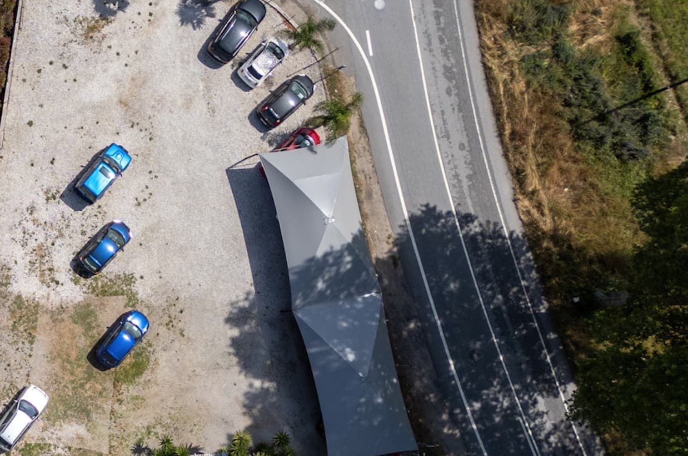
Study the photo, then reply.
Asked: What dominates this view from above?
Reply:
paved ground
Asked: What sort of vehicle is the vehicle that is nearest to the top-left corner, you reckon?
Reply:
car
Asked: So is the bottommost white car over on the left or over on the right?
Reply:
left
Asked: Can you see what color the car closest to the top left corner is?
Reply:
blue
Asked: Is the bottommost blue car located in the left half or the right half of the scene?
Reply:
left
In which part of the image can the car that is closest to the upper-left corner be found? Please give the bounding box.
[74,140,136,207]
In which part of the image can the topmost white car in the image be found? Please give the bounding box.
[238,35,288,87]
